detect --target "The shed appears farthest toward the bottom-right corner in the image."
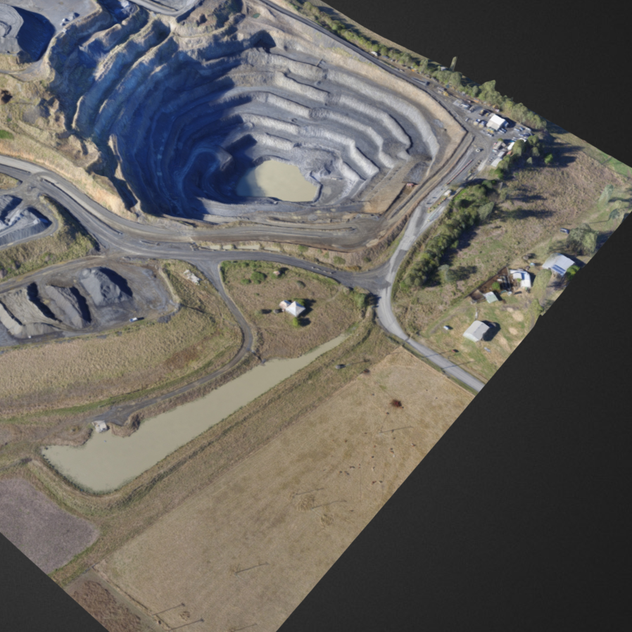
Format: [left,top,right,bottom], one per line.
[465,320,490,346]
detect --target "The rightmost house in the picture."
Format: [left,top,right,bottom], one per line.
[542,252,569,278]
